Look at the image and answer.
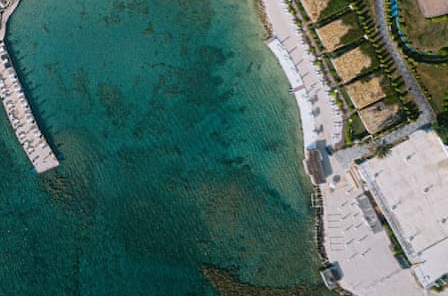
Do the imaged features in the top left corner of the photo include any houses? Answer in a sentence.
No, I see no house in the top left corner of the photo.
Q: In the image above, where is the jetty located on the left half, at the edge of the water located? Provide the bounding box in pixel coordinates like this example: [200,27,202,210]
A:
[0,39,60,173]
